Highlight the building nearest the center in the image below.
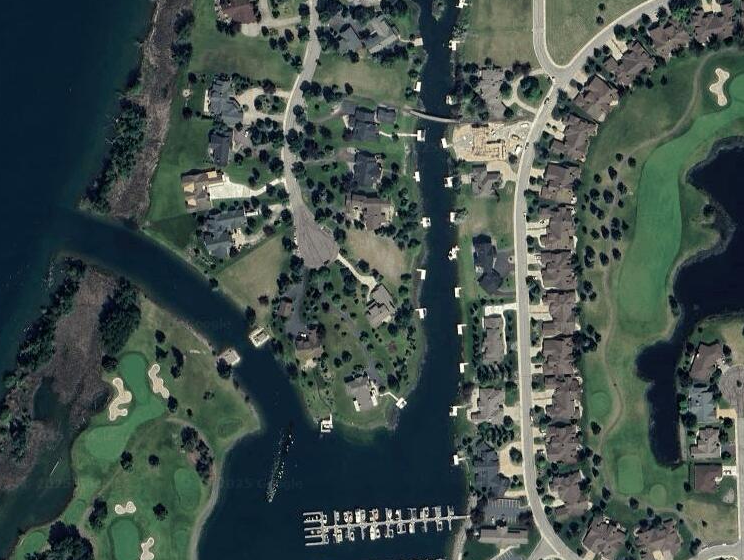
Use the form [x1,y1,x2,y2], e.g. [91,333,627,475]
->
[364,282,399,325]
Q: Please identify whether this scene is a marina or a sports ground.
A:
marina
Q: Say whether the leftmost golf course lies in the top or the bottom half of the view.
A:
bottom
